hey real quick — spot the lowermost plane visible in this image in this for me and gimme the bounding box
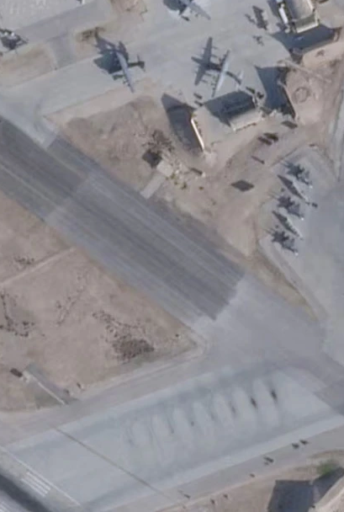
[276,234,297,254]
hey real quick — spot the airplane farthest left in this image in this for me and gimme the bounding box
[112,47,148,96]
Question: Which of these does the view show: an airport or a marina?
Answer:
airport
